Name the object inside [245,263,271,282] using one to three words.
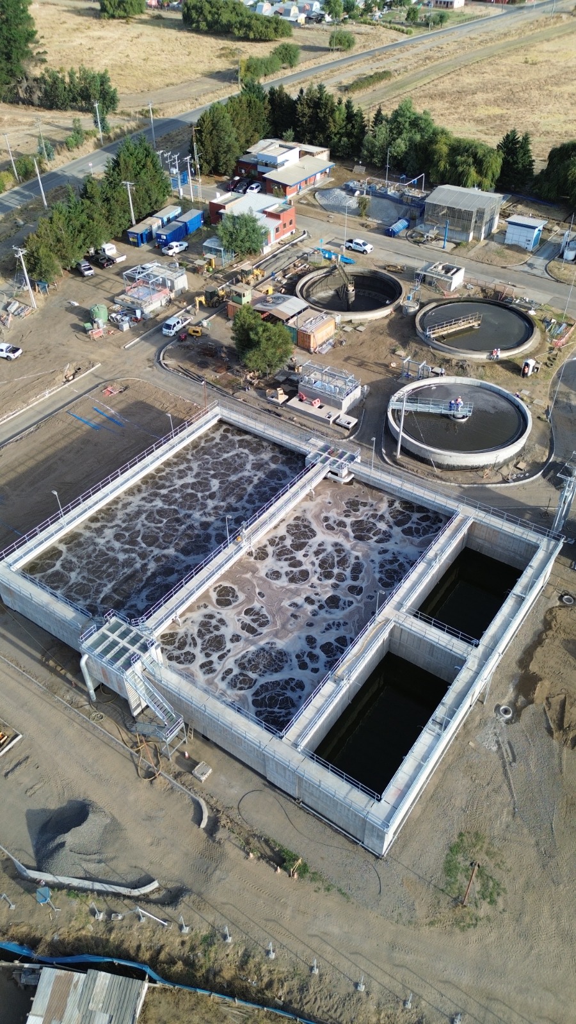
work vehicle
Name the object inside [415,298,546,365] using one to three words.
storage tank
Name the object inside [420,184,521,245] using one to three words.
building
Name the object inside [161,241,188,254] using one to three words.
vehicle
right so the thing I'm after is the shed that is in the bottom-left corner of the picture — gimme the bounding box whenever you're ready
[22,968,149,1024]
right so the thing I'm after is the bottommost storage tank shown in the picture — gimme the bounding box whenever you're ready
[386,379,531,472]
